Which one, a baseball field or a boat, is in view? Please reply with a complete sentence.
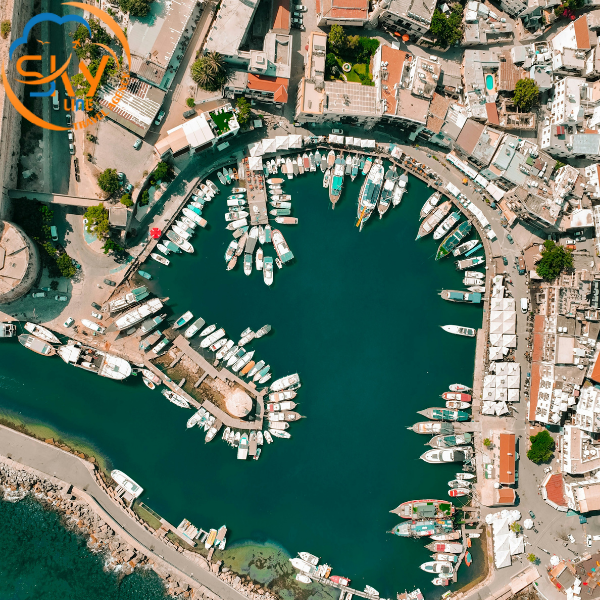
This aerial view contains a boat.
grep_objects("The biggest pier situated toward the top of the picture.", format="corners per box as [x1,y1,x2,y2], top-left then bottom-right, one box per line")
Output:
[247,156,268,226]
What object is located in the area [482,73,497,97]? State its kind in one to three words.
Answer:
swimming pool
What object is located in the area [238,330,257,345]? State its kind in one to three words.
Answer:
boat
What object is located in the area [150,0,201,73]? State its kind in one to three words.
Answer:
building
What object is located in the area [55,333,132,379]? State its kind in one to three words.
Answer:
ship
